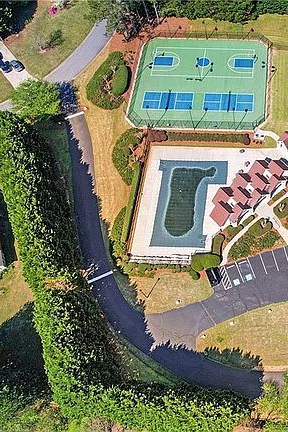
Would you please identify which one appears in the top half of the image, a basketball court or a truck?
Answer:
basketball court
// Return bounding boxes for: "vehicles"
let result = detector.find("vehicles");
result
[0,59,10,71]
[206,266,223,287]
[9,58,23,71]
